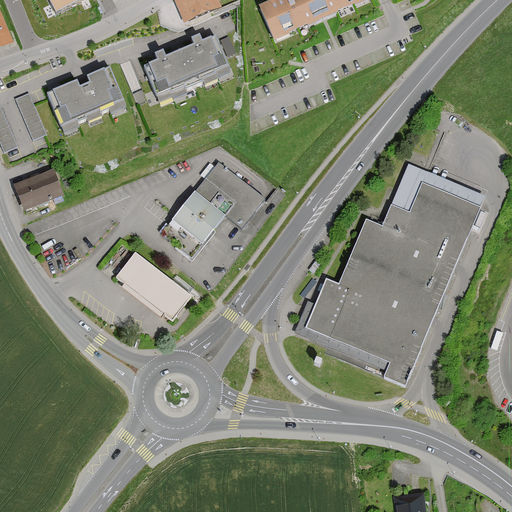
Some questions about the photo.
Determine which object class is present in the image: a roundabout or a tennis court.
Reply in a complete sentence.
Visible in the photo is a roundabout.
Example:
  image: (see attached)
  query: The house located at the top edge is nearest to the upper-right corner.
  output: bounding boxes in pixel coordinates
[258,0,370,45]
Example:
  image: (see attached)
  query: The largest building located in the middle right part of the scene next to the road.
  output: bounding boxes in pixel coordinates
[296,164,488,386]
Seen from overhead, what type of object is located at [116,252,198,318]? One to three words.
building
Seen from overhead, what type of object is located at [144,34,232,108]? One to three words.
building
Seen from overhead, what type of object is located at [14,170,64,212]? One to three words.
house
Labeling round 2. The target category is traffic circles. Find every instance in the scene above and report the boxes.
[132,350,222,440]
